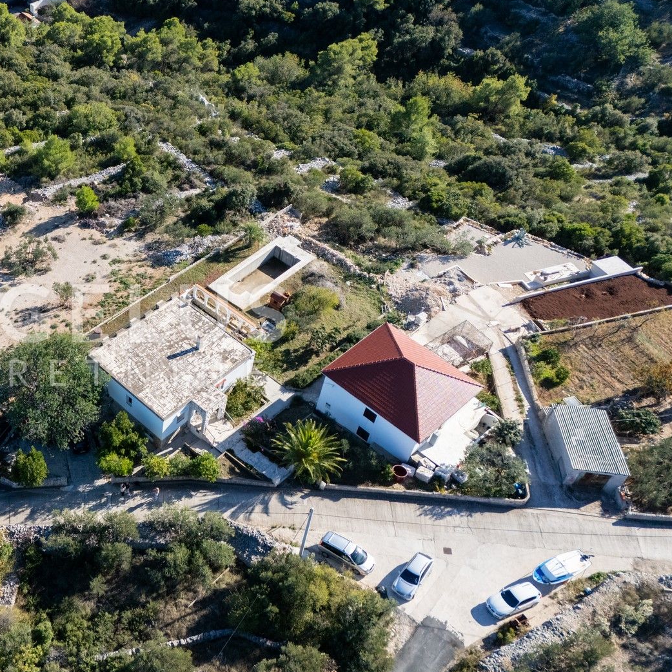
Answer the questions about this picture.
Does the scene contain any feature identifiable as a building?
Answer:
Yes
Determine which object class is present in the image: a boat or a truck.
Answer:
boat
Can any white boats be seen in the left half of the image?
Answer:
No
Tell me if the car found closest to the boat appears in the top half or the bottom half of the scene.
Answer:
bottom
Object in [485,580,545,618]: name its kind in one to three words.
car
